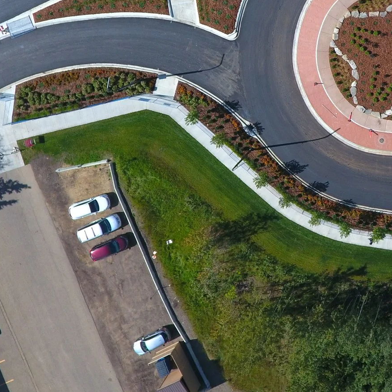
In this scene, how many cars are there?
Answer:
4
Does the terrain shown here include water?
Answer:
No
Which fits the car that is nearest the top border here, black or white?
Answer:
white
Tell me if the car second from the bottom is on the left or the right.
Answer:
left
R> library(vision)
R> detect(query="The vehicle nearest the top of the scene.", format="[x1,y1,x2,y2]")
[68,193,112,220]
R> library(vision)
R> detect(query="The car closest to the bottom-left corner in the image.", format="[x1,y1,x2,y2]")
[132,328,172,355]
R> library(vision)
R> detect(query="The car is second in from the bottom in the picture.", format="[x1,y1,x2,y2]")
[88,233,131,262]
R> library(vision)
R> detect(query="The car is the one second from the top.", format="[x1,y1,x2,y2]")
[77,213,123,241]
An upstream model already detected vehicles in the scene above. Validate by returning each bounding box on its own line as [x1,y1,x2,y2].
[132,328,172,355]
[77,213,123,241]
[68,193,112,220]
[88,233,131,262]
